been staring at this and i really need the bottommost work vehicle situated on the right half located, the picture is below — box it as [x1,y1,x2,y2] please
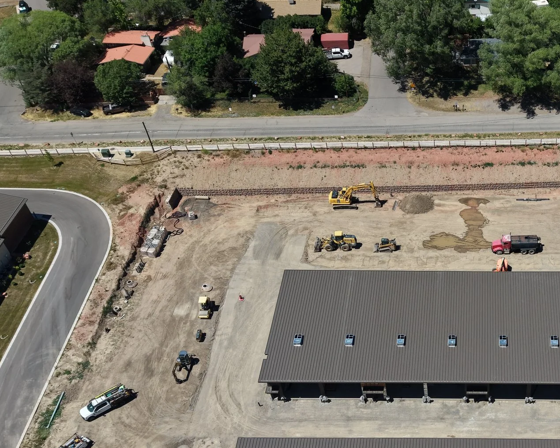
[493,255,509,269]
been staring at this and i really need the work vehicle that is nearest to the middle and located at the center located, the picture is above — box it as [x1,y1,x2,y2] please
[313,229,358,250]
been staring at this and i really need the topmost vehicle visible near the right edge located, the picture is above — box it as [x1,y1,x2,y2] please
[491,234,542,253]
